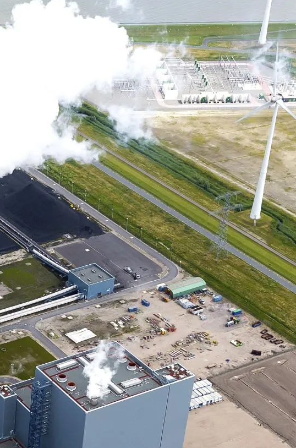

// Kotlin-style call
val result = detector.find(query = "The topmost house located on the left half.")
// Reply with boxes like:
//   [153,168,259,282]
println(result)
[69,263,113,299]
